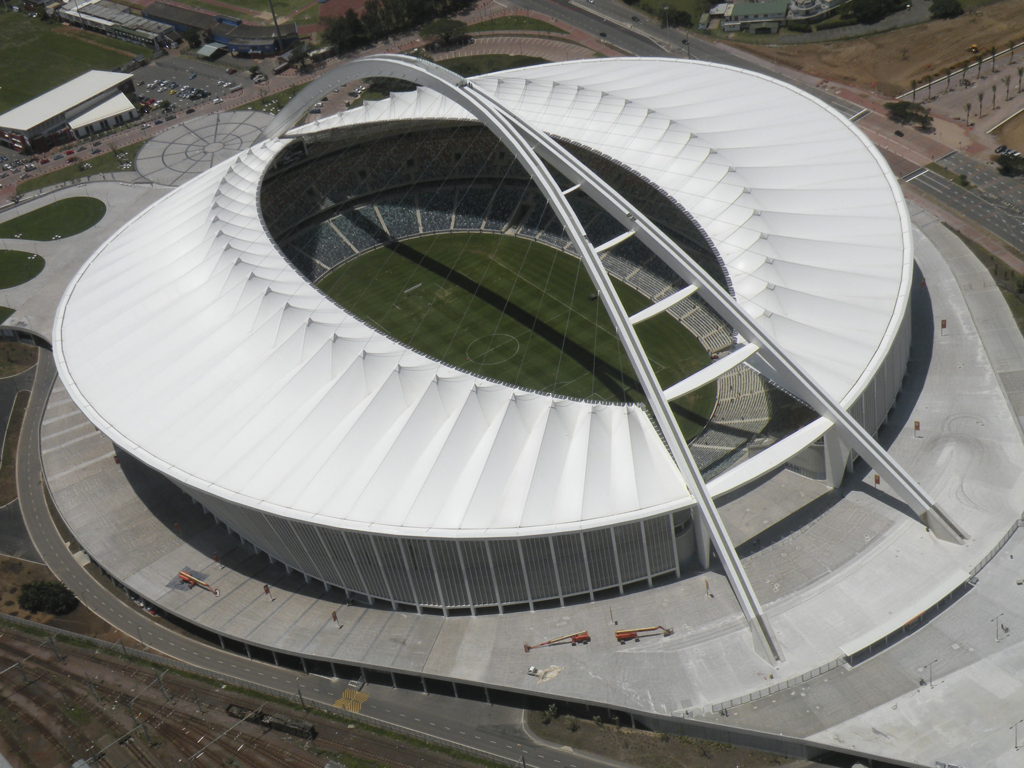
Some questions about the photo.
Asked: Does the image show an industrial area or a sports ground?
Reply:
sports ground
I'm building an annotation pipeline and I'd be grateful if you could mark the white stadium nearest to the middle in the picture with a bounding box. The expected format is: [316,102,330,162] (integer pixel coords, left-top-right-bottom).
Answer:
[50,58,916,616]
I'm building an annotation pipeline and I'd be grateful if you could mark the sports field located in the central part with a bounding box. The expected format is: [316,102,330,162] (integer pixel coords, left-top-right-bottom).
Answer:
[317,233,720,461]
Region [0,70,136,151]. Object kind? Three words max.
building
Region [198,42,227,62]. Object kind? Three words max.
shed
